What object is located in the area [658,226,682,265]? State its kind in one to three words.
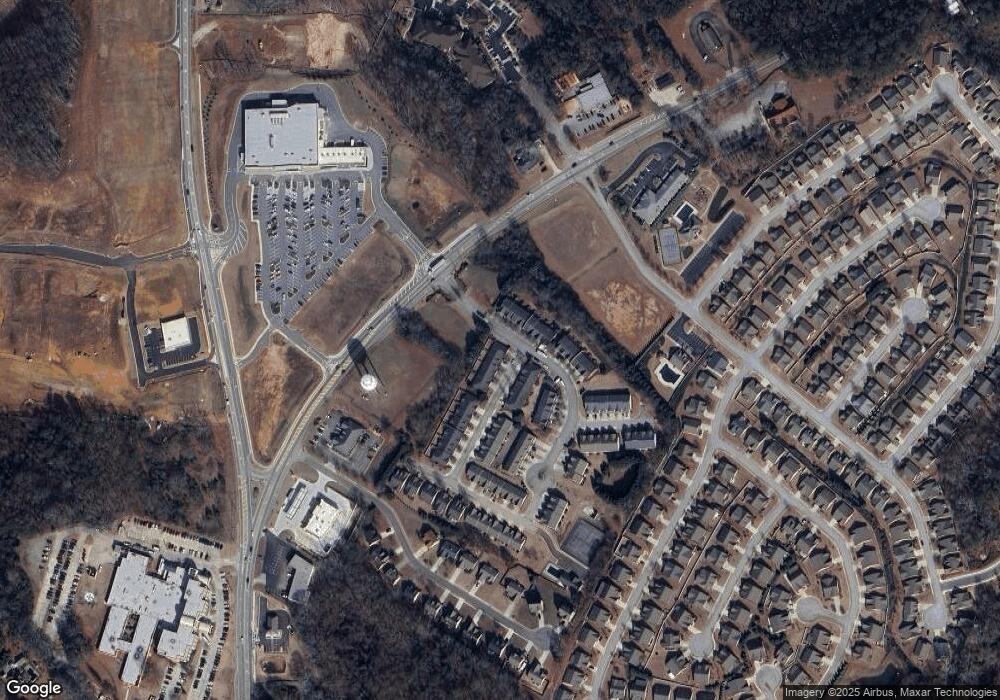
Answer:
tennis court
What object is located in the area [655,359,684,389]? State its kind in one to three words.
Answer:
swimming pool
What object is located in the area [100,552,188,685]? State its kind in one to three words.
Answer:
building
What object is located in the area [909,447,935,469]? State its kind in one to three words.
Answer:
house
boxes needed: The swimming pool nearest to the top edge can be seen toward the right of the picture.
[674,202,697,226]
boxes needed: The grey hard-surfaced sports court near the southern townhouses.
[562,518,604,566]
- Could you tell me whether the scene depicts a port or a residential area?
residential area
